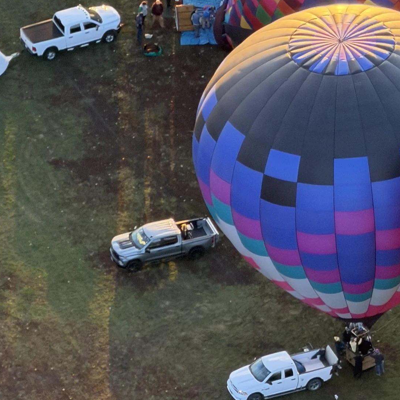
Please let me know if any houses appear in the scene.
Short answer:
No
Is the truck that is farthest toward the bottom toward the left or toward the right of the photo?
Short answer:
right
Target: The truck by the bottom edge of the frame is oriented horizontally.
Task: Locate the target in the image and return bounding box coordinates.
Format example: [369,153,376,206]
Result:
[228,349,336,400]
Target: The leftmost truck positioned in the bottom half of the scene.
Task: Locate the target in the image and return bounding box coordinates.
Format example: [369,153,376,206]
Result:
[110,217,217,273]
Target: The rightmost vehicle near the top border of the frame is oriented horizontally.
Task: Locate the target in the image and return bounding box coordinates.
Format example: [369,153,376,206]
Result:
[18,10,122,61]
